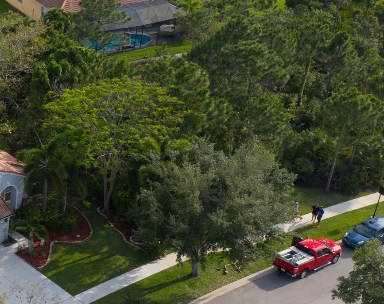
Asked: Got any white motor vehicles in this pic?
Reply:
No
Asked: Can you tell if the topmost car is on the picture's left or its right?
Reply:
right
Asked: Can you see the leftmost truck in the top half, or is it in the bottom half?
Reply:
bottom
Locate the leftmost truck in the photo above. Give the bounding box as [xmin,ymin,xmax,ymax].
[269,234,352,280]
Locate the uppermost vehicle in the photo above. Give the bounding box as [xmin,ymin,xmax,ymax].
[337,210,384,250]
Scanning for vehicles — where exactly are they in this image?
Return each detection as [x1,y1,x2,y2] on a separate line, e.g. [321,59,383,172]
[269,234,352,280]
[337,210,384,250]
